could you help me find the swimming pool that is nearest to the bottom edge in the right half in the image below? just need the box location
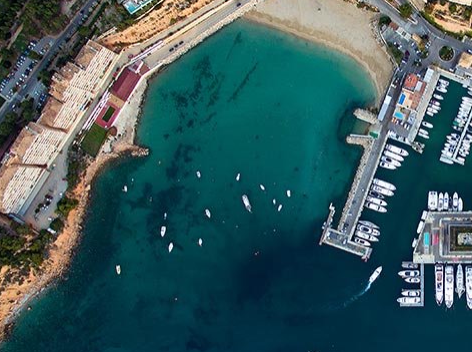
[390,105,408,121]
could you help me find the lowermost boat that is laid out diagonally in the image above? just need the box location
[367,266,381,284]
